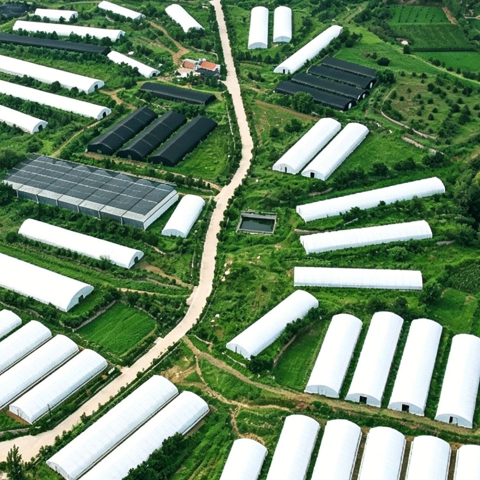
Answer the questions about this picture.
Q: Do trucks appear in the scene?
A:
No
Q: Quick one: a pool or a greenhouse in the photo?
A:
greenhouse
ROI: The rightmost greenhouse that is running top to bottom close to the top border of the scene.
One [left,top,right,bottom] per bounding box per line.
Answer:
[274,2,291,42]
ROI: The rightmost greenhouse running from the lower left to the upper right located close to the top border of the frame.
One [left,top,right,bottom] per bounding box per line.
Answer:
[275,22,343,74]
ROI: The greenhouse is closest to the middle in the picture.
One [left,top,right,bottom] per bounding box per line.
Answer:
[162,194,205,238]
